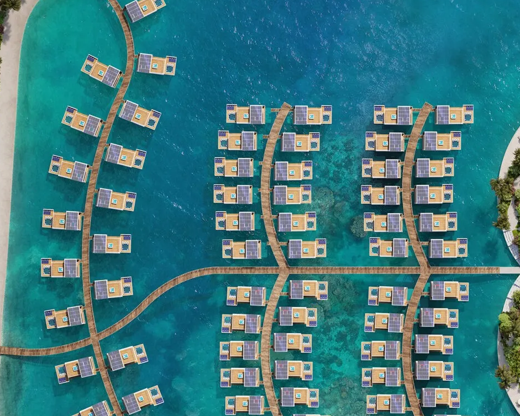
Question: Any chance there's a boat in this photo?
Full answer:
No, I can see no boat in this picture.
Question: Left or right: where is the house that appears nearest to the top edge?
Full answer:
The house that appears nearest to the top edge sits on the left side.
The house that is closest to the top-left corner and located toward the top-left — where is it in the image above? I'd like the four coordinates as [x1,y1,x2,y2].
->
[81,53,123,88]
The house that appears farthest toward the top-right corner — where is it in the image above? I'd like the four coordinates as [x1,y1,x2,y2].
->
[435,104,474,124]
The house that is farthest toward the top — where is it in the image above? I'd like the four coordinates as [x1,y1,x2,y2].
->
[124,0,167,22]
